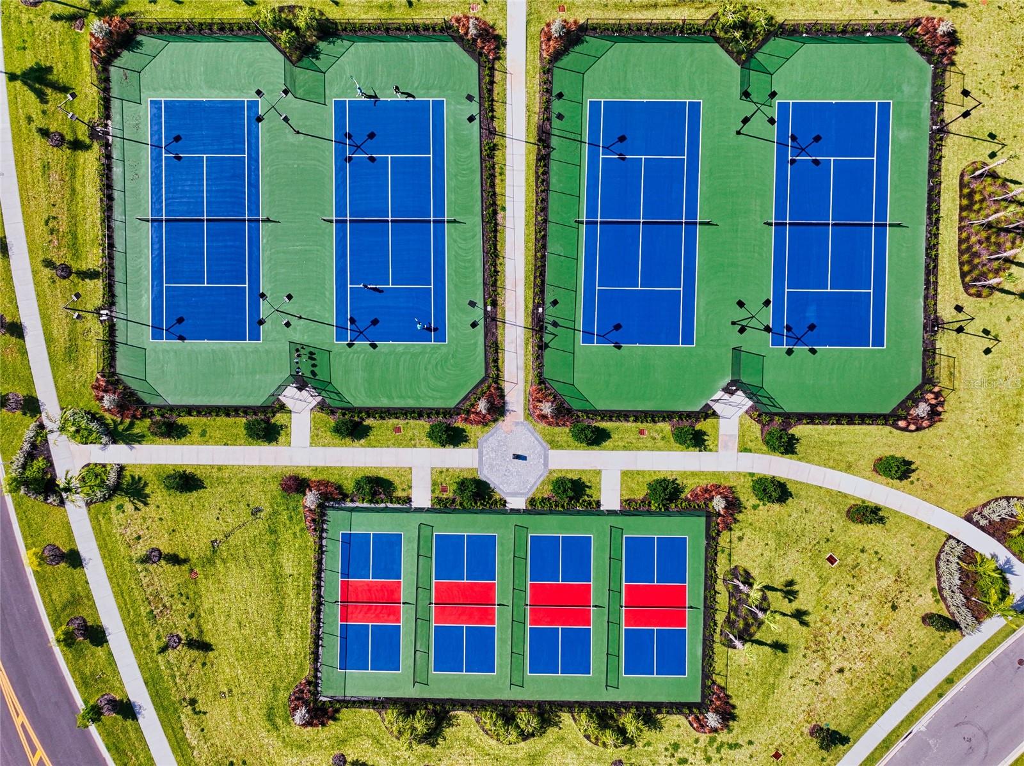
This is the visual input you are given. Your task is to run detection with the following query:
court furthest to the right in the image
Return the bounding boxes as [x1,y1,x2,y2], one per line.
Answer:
[732,35,931,413]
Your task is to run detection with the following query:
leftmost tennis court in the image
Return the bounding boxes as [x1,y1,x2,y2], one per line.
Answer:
[111,34,300,406]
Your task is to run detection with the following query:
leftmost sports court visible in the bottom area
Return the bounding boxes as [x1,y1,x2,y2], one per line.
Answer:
[320,506,421,698]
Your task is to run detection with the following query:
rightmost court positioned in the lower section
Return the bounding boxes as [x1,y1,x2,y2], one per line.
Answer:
[605,509,705,702]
